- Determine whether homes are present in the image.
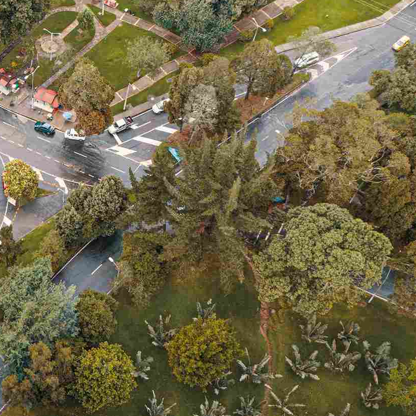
No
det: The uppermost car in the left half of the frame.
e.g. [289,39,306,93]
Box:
[151,97,171,113]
